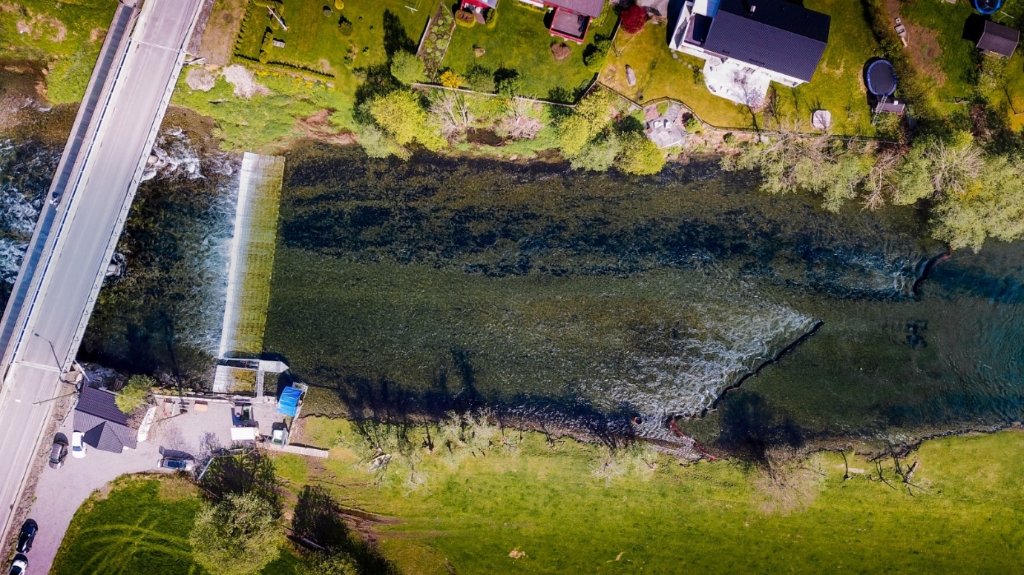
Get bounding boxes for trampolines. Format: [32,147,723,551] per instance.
[969,0,1002,17]
[865,59,896,96]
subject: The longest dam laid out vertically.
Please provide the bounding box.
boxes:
[217,152,289,359]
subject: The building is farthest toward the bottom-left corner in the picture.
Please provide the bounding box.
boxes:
[73,386,148,454]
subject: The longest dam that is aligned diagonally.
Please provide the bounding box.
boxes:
[667,318,825,424]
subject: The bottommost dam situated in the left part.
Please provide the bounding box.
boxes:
[212,364,261,395]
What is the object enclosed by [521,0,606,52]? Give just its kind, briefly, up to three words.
house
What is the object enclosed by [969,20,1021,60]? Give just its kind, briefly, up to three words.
shed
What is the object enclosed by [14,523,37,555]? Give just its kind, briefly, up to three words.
car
